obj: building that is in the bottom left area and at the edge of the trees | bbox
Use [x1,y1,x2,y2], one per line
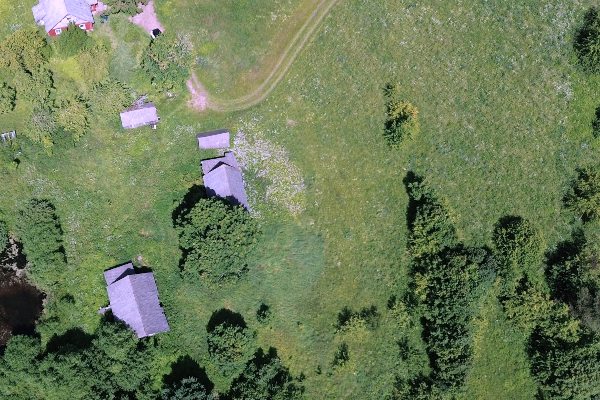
[104,263,170,342]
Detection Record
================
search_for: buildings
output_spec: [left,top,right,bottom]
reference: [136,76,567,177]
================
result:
[104,263,170,342]
[200,152,249,219]
[32,0,98,38]
[196,129,229,150]
[120,101,157,130]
